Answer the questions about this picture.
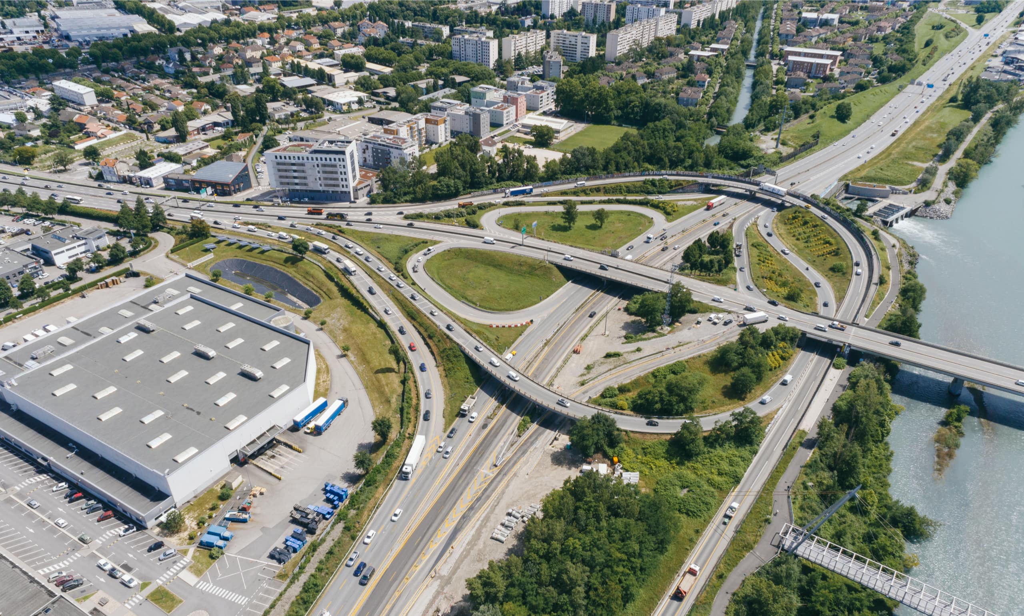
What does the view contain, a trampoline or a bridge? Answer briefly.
bridge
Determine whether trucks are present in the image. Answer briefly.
Yes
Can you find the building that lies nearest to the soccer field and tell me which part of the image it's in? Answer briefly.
top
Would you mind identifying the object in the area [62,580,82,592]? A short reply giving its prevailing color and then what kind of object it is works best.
gray vehicle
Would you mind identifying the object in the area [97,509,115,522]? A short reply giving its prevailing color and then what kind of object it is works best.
red vehicle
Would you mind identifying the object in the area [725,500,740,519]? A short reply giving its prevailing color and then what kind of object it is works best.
white vehicle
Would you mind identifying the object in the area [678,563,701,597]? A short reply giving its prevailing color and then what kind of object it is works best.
white truck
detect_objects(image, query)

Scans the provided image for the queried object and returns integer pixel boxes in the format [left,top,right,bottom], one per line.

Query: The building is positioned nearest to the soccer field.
[522,115,573,140]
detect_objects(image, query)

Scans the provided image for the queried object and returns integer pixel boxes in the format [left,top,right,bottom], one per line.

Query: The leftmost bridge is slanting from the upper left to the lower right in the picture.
[458,334,592,422]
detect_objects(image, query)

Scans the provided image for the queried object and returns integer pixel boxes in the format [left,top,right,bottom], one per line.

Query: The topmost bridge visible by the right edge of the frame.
[788,308,1024,407]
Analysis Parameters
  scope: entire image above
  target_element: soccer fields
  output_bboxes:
[551,124,630,152]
